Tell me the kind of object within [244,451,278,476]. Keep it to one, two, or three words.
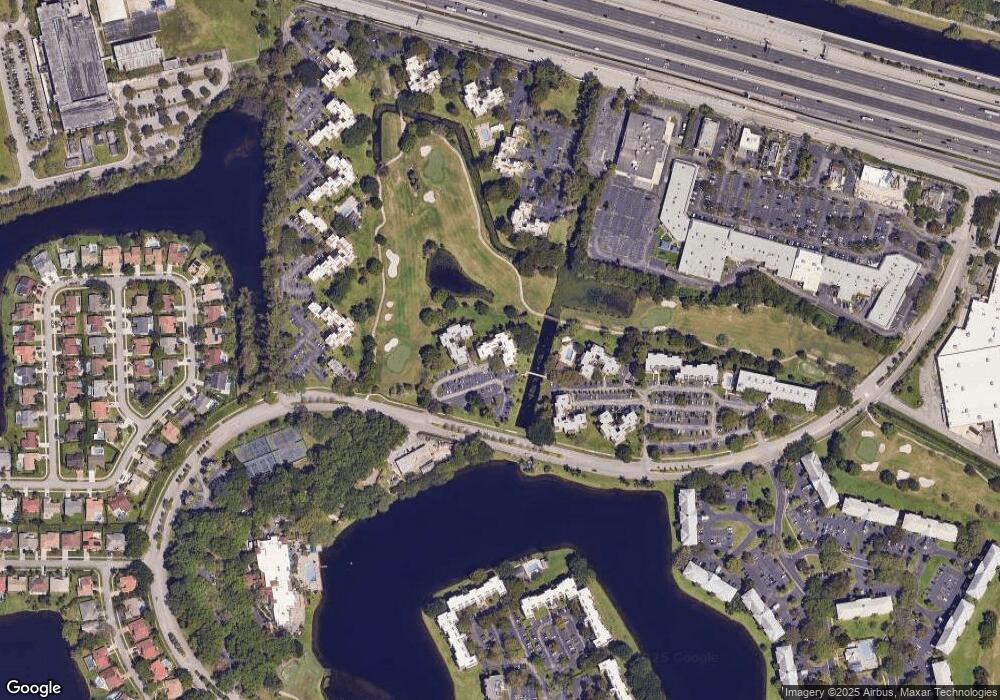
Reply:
tennis court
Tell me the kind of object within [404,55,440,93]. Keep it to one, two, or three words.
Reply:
building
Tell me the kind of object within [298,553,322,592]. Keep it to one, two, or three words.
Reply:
swimming pool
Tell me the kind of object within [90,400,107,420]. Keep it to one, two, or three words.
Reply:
house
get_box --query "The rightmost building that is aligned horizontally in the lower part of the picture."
[901,514,961,542]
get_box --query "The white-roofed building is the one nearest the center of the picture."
[477,331,519,367]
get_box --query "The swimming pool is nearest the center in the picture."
[560,346,576,365]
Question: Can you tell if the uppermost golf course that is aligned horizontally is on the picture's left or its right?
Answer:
right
